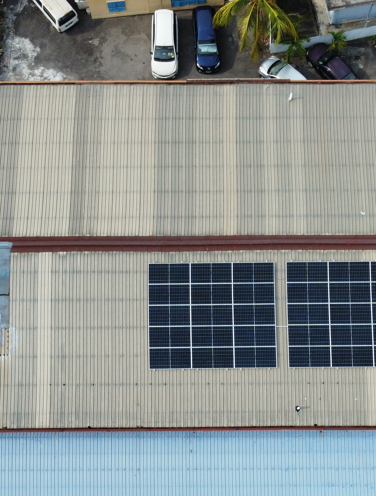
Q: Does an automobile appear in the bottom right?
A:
No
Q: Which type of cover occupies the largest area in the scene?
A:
buildings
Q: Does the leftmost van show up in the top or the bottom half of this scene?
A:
top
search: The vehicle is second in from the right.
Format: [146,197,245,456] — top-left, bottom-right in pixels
[261,57,304,79]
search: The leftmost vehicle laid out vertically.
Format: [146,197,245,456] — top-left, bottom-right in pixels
[149,11,182,79]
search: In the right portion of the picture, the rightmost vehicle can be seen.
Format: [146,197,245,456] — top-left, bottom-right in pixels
[308,43,362,78]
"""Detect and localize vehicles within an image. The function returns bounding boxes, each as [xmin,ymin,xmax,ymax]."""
[261,57,304,79]
[149,11,182,79]
[193,11,224,75]
[308,43,362,78]
[29,0,76,35]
